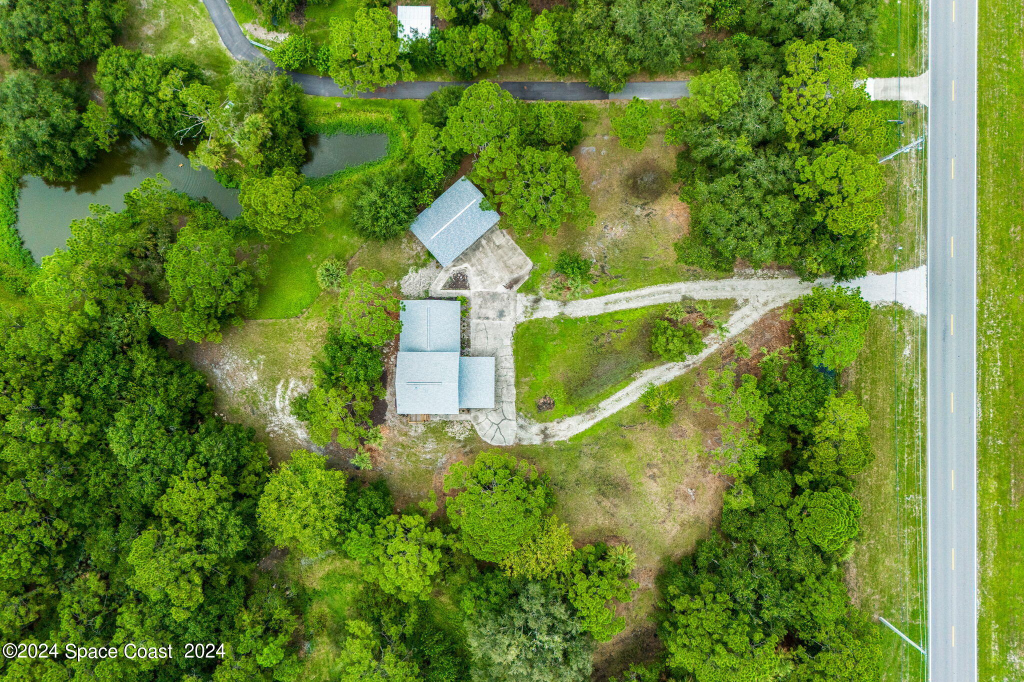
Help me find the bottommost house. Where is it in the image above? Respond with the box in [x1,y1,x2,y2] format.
[395,299,495,414]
